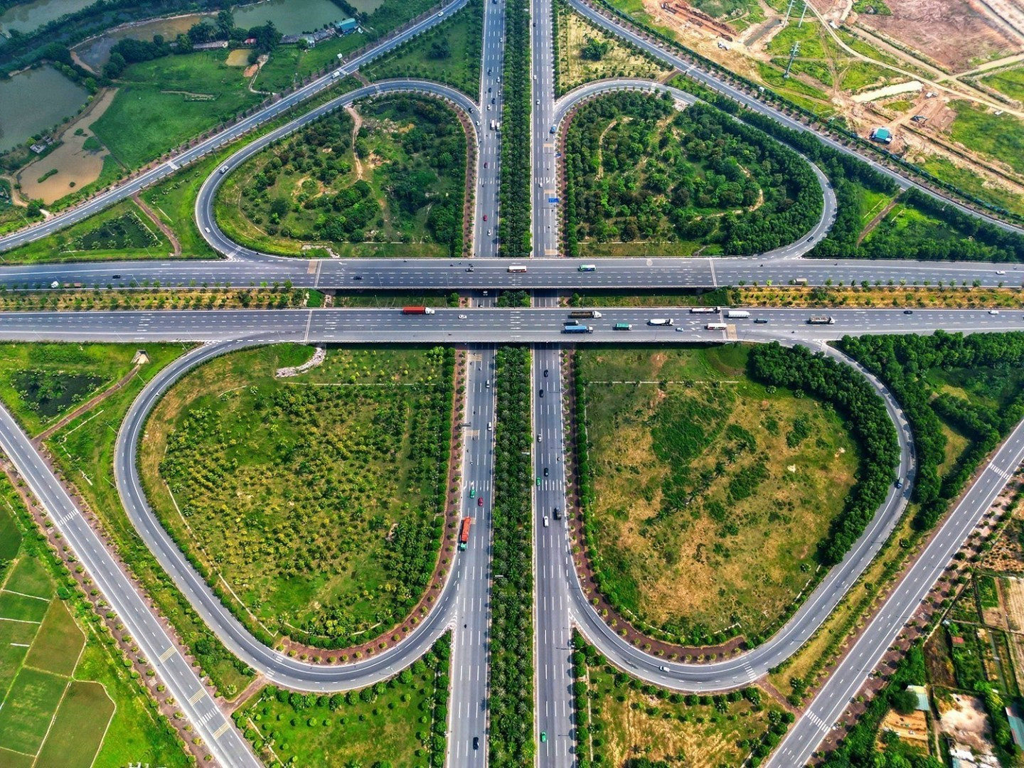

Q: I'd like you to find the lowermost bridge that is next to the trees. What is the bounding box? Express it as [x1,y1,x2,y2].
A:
[303,307,728,346]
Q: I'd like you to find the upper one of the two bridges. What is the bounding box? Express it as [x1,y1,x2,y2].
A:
[310,256,721,293]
